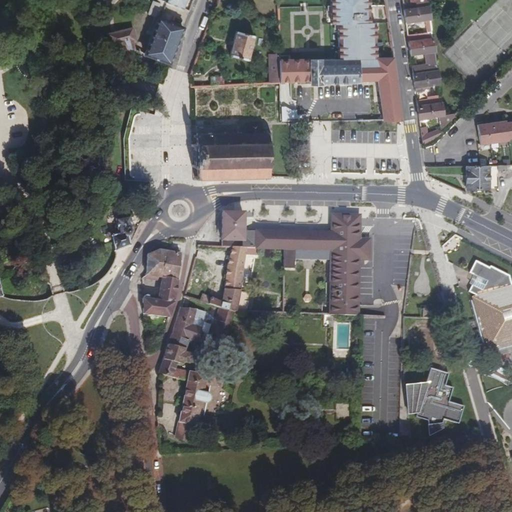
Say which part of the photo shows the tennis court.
top right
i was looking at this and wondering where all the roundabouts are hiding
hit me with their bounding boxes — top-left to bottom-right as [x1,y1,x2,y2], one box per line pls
[157,184,214,237]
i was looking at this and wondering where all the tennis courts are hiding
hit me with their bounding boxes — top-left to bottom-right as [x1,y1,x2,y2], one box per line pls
[444,0,512,81]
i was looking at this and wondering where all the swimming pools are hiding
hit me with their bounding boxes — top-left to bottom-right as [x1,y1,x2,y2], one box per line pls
[333,322,352,358]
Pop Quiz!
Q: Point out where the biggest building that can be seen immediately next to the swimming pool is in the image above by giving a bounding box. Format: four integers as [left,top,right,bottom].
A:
[255,212,372,314]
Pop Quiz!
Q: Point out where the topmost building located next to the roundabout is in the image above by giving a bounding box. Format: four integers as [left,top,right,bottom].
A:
[199,142,274,182]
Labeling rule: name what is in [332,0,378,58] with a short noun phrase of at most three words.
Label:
building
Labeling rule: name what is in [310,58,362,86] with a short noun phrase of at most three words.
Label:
house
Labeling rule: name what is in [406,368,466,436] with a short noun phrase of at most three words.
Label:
building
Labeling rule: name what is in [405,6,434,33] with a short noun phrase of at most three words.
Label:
house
